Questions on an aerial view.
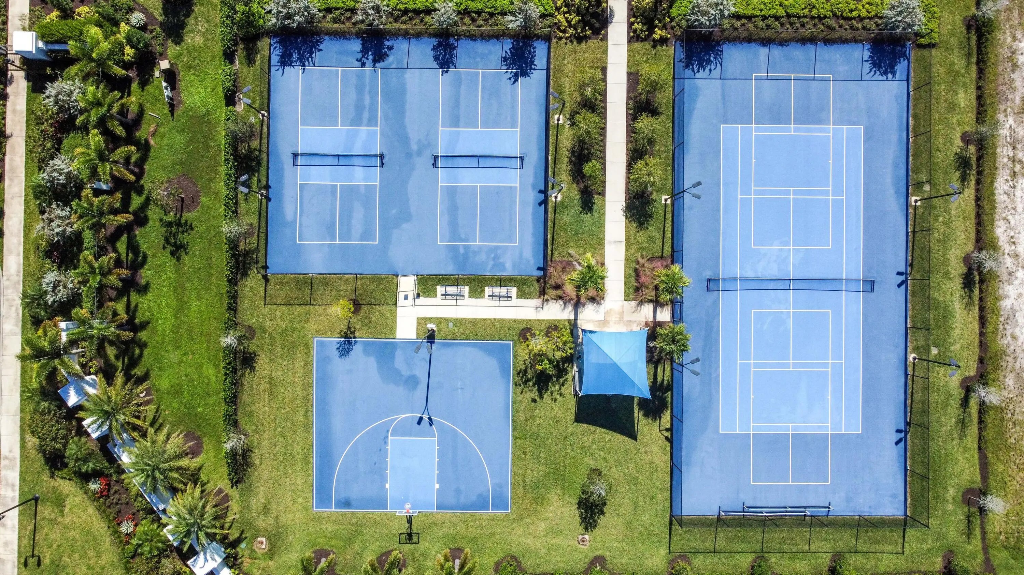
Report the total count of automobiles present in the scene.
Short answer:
0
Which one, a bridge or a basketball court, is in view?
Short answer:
basketball court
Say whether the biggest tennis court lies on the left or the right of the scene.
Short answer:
right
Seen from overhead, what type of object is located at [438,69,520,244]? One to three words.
sports court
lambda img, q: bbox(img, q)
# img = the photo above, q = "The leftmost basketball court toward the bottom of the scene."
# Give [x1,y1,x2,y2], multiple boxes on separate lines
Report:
[313,337,513,513]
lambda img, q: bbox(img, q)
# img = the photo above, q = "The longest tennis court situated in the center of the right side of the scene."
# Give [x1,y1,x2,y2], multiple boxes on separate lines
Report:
[672,41,911,516]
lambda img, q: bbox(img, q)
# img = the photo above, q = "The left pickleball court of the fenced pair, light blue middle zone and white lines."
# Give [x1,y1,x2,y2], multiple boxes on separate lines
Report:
[297,67,380,243]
